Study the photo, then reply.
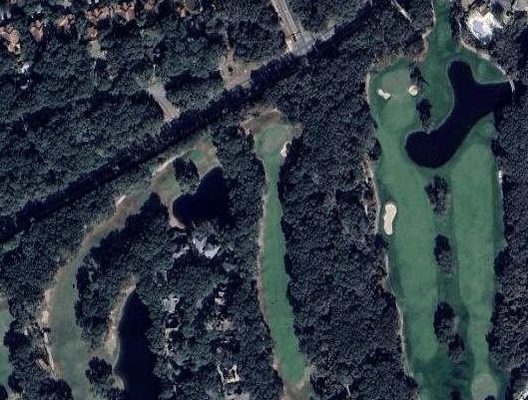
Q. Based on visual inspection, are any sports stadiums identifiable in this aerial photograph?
No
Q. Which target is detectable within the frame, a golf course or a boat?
golf course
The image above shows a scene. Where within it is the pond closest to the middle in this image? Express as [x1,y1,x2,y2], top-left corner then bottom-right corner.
[174,167,228,225]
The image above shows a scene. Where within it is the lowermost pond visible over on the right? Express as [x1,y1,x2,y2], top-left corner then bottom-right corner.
[407,60,512,167]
